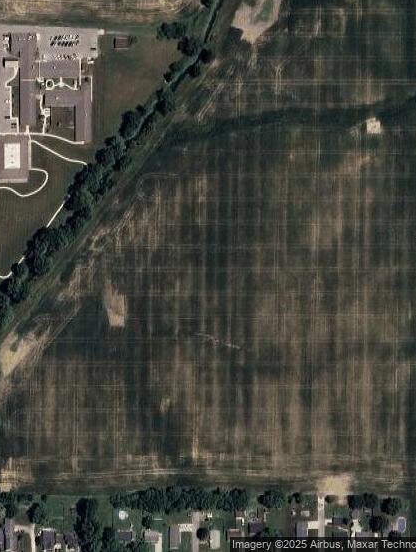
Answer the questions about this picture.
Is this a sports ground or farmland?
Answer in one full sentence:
It's farmland.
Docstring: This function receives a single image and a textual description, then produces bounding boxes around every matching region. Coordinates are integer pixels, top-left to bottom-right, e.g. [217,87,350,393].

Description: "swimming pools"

[117,510,127,520]
[395,516,406,532]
